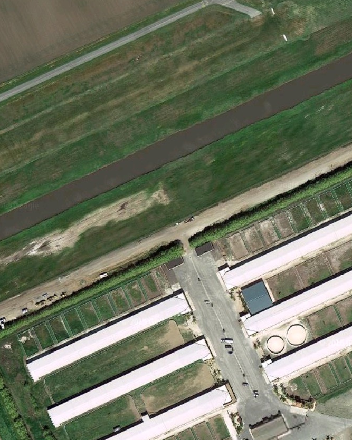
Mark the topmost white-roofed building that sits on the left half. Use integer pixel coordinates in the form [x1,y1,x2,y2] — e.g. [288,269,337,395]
[27,293,190,381]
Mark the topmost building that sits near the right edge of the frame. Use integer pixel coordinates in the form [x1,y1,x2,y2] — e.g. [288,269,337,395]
[218,211,352,289]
